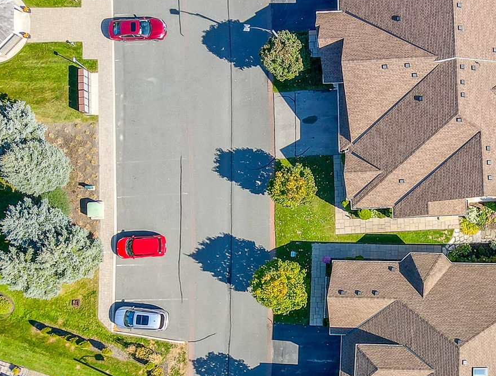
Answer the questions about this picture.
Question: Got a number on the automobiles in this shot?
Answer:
three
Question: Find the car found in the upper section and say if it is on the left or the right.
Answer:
left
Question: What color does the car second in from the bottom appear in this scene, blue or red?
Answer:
red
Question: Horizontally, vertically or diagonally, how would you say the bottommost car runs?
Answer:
horizontally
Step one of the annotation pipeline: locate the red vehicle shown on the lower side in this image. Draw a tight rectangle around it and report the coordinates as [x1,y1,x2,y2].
[118,232,169,259]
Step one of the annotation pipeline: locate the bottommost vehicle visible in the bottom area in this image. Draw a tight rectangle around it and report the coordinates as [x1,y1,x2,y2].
[116,302,172,332]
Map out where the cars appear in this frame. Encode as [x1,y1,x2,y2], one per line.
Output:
[109,14,170,44]
[118,232,169,259]
[116,302,172,332]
